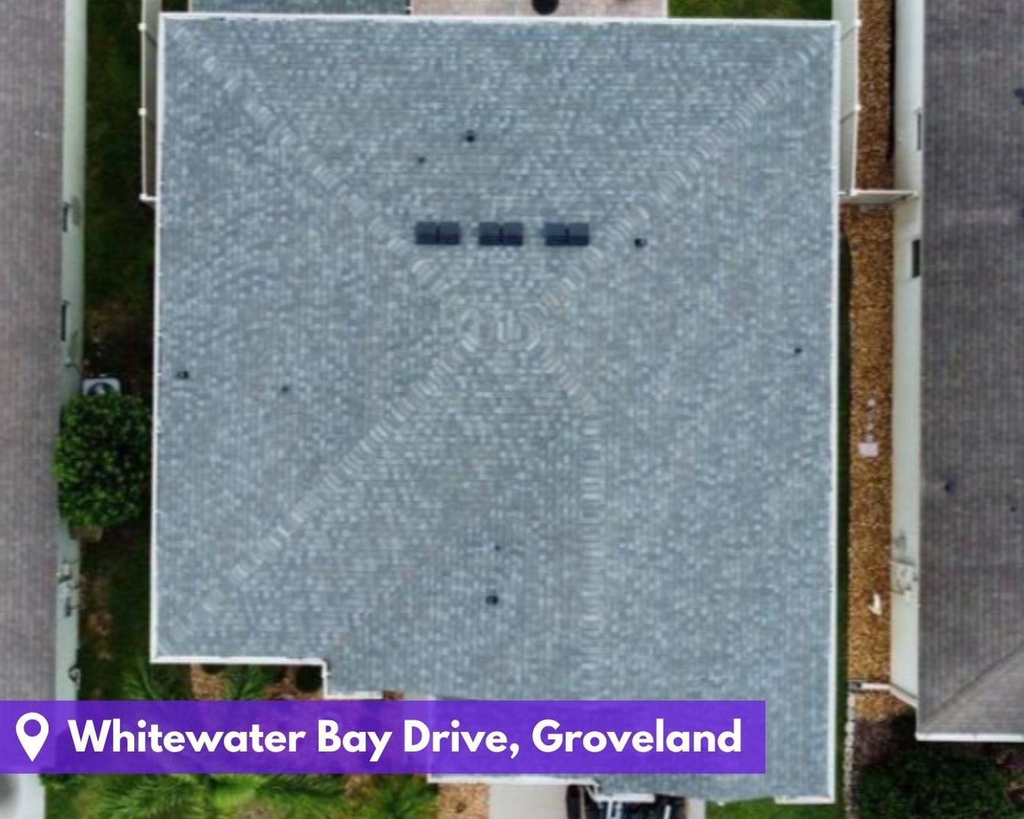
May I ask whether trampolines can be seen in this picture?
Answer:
No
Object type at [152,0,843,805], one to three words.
house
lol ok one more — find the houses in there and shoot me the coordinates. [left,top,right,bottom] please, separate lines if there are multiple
[846,0,1024,741]
[0,0,92,770]
[152,0,843,805]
